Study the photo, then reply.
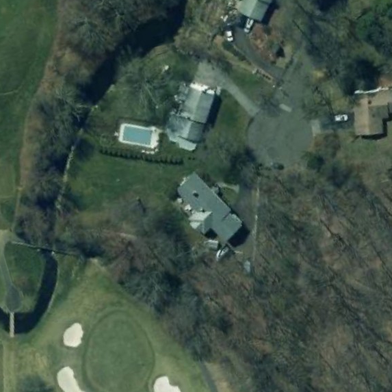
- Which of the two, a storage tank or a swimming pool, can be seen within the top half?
swimming pool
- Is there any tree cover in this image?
Yes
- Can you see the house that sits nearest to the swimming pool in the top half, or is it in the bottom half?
top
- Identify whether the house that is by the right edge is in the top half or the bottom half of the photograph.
top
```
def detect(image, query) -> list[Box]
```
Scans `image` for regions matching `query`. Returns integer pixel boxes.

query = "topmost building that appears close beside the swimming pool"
[167,82,217,152]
